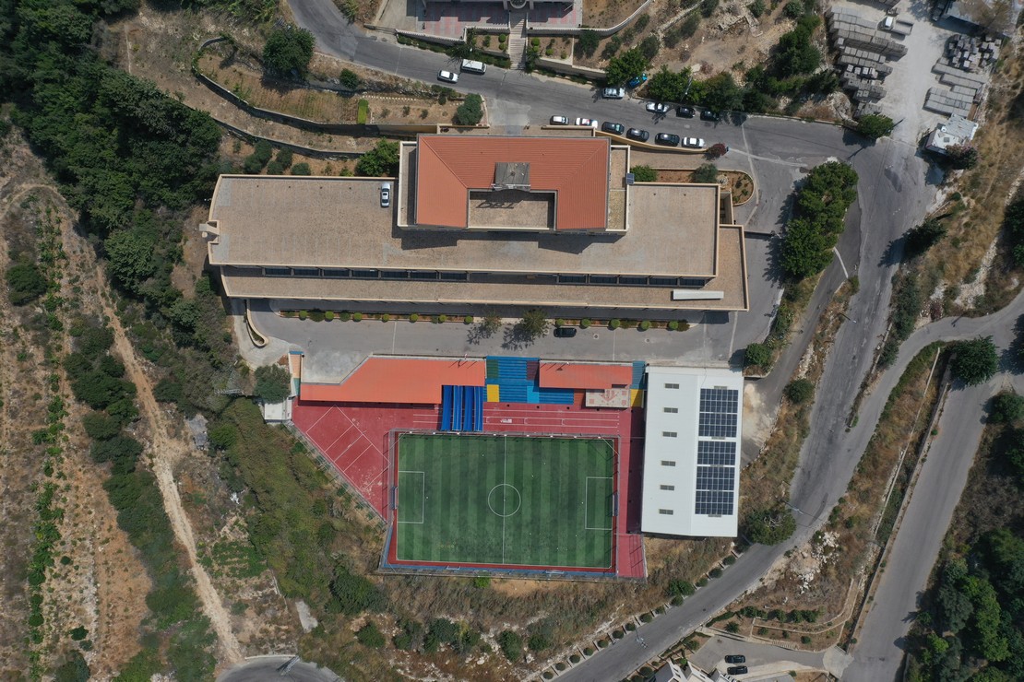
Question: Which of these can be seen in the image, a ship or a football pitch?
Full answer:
The image shows a football pitch.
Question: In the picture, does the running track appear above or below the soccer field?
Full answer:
As seen from overhead, the running track falls above the soccer field in the picture.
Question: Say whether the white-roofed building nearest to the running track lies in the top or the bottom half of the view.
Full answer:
You can find the white-roofed building nearest to the running track in the bottom half.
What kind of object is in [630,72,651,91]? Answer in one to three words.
work vehicle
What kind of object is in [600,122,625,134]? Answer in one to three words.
vehicle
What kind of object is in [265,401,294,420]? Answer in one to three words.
shed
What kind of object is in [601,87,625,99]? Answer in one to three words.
vehicle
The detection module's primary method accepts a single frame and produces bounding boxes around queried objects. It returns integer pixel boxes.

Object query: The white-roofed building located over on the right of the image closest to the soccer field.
[639,367,744,538]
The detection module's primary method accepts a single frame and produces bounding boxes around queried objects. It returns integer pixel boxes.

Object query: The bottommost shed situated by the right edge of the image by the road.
[922,114,978,155]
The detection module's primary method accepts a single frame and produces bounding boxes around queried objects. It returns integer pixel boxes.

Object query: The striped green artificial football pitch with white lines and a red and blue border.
[383,433,619,575]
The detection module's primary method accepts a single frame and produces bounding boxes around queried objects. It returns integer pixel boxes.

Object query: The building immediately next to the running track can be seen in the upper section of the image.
[200,135,749,313]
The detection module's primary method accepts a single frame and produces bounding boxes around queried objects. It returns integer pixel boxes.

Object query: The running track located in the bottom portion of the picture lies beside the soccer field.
[412,407,637,430]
